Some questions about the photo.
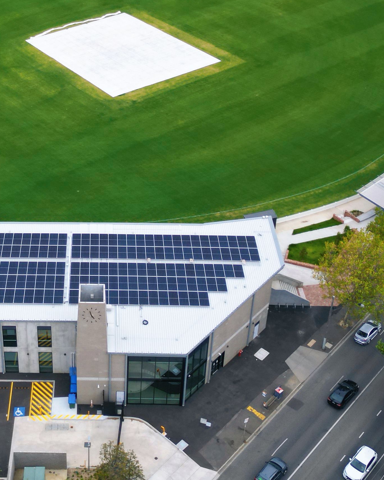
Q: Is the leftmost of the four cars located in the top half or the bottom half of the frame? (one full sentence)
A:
The leftmost of the four cars sits in the bottom half of the picture.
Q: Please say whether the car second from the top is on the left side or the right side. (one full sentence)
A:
The car second from the top appears in the right half of the scene.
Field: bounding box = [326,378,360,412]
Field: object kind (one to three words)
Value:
car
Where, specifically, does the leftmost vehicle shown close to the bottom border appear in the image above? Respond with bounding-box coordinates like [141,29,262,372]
[251,451,290,480]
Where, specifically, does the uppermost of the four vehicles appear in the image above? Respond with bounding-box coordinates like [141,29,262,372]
[351,318,382,347]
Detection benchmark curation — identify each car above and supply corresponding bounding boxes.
[351,318,382,347]
[251,451,290,480]
[326,378,360,412]
[341,441,380,480]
